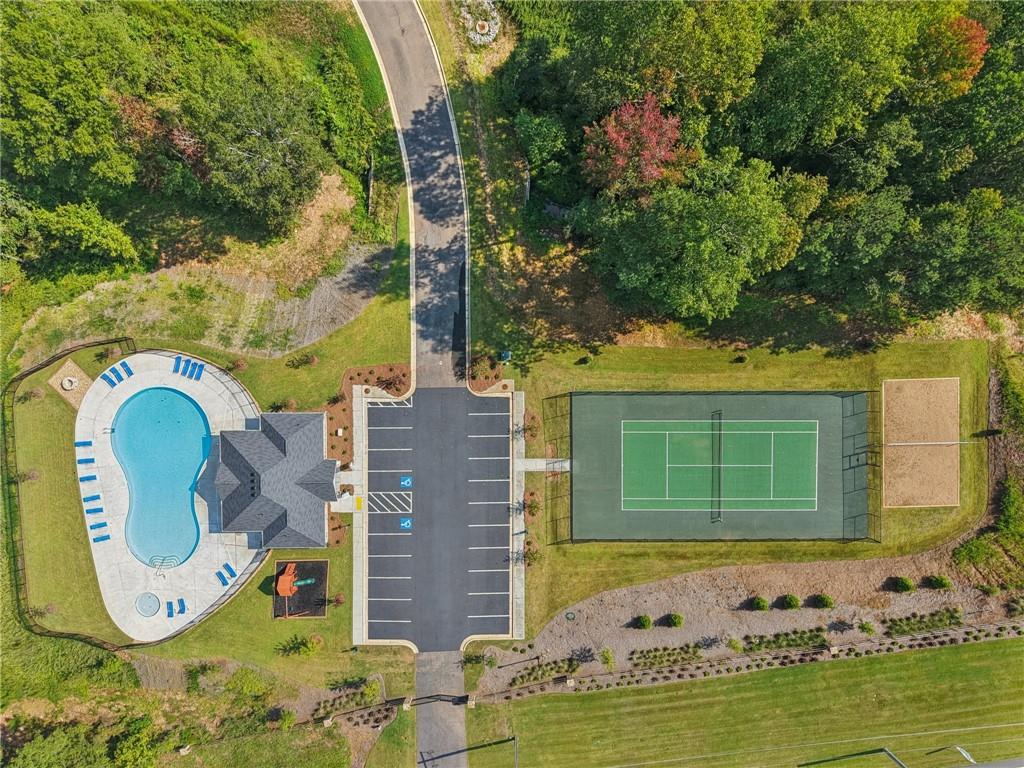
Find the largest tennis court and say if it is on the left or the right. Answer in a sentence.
The largest tennis court sits on the right side.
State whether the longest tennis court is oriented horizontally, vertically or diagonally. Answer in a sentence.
In this picture, the longest tennis court lies horizontally.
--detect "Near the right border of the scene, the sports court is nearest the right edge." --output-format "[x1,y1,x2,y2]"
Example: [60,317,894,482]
[875,377,986,508]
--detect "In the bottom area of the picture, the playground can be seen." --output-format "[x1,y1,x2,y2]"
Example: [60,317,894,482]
[272,558,330,619]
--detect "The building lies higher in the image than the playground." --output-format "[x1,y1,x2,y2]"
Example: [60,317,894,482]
[212,412,343,549]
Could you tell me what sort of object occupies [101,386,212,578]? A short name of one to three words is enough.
swimming pool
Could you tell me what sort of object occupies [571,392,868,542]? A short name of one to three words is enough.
tennis court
